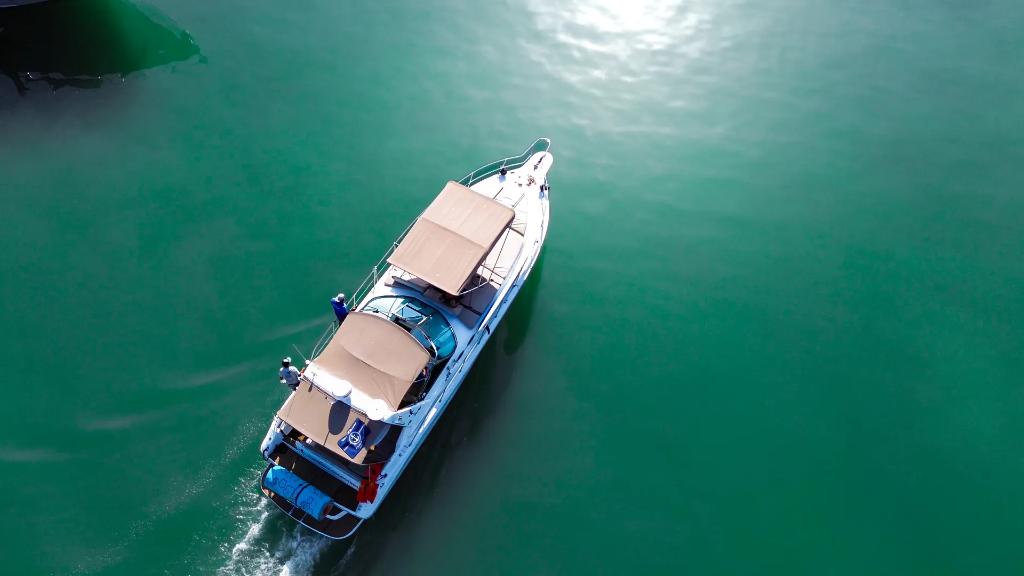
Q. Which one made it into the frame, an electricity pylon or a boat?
boat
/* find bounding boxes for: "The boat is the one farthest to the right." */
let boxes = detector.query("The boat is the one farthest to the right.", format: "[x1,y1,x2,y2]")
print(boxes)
[260,138,555,540]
